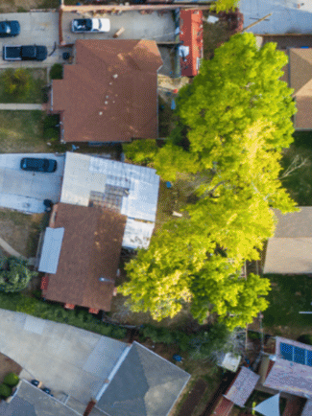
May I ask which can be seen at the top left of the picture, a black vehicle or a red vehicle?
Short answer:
black vehicle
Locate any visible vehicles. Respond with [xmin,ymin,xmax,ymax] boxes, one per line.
[19,155,58,173]
[0,19,20,36]
[70,14,113,34]
[1,43,49,61]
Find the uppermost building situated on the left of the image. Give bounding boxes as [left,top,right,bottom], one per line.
[49,38,163,144]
